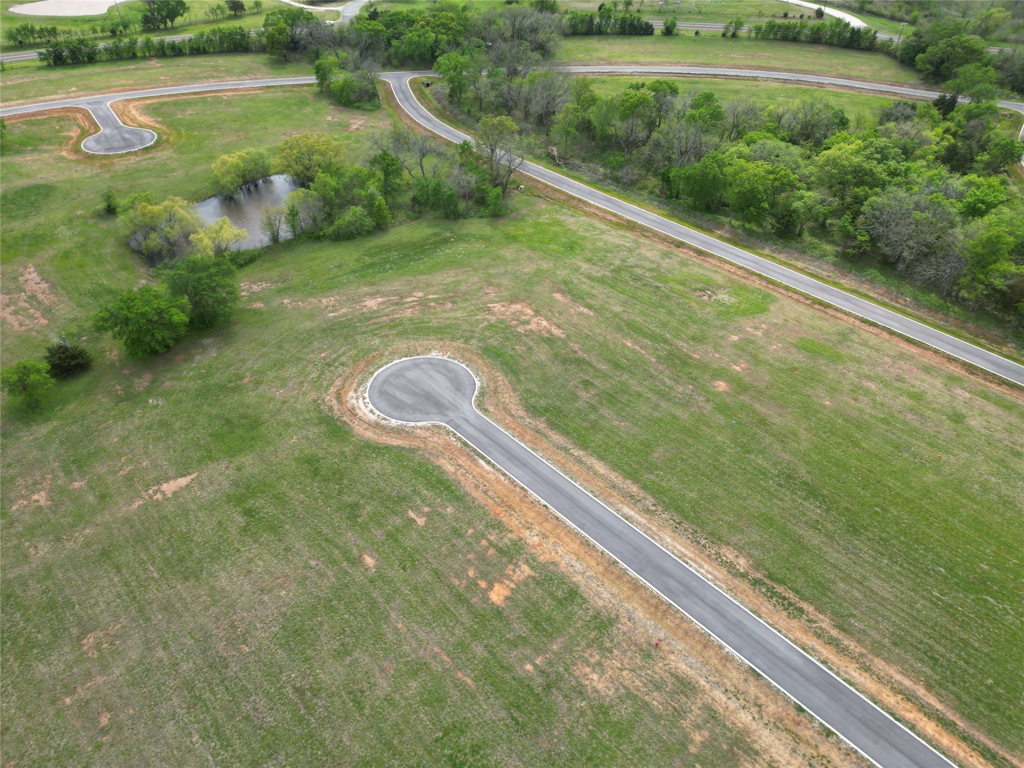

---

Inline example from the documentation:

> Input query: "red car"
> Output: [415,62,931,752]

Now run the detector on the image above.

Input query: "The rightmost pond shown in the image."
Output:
[133,176,310,268]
